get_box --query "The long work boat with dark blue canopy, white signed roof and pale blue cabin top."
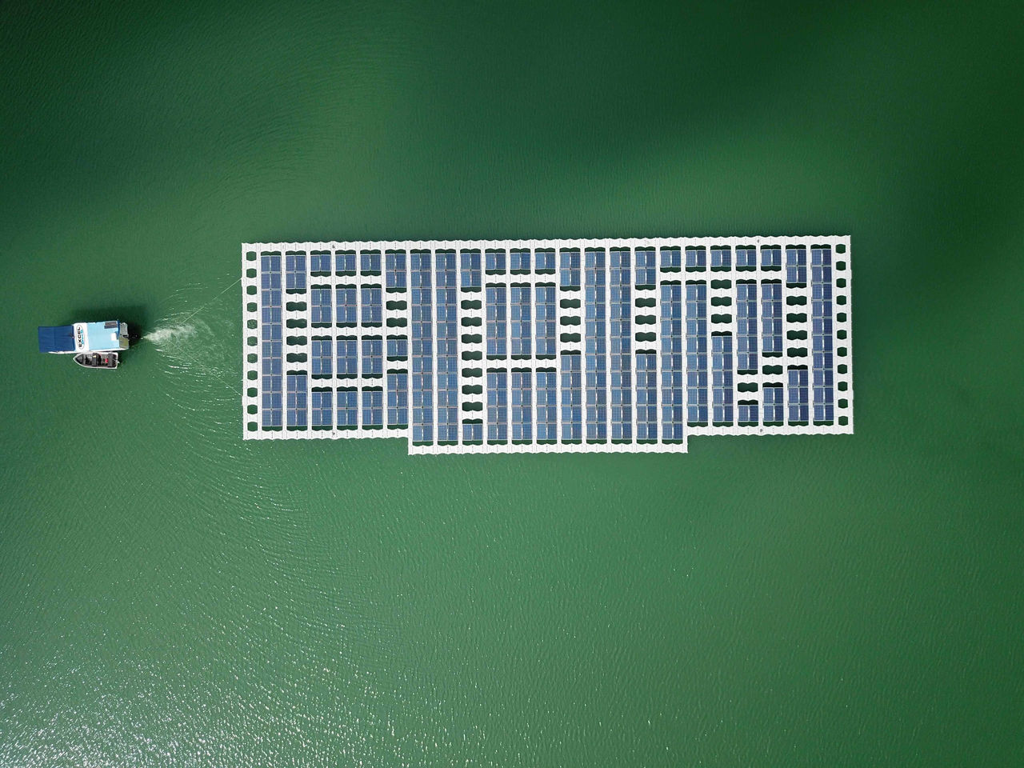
[38,318,144,353]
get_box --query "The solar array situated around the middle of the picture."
[241,235,853,455]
